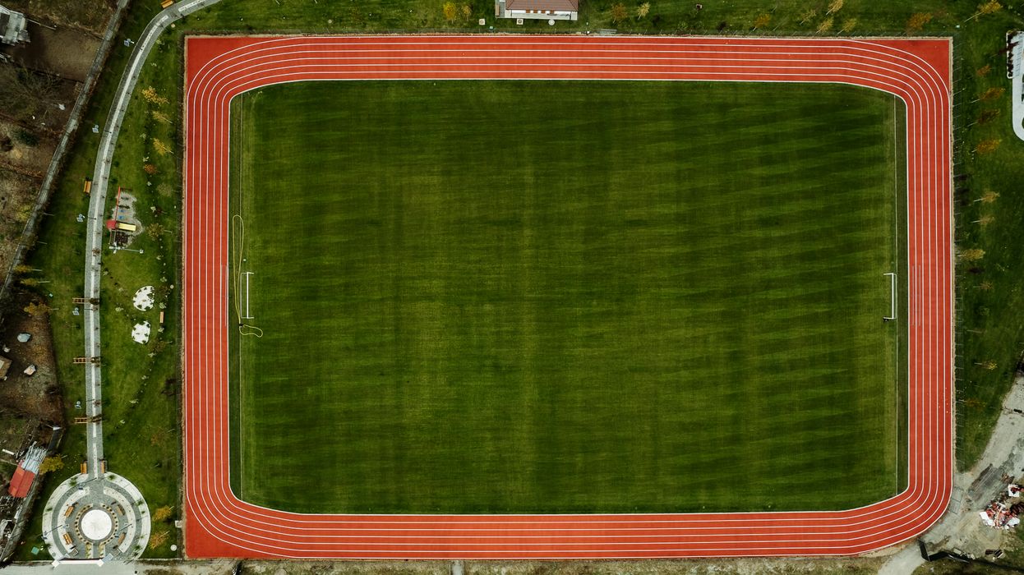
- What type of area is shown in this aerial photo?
sports ground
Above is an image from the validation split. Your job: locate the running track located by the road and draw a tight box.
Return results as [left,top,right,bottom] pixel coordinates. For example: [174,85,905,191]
[185,35,954,560]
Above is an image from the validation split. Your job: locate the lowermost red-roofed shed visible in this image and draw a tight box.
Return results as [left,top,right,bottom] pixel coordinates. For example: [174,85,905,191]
[8,463,37,498]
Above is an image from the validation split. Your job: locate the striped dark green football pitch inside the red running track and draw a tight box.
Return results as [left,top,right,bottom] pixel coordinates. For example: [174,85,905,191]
[230,80,908,515]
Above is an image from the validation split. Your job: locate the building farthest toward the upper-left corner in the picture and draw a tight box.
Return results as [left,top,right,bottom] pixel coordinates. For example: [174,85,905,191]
[0,9,43,54]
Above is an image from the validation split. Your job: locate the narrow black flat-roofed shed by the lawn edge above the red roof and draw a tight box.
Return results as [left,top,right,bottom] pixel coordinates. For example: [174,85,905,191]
[47,426,70,455]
